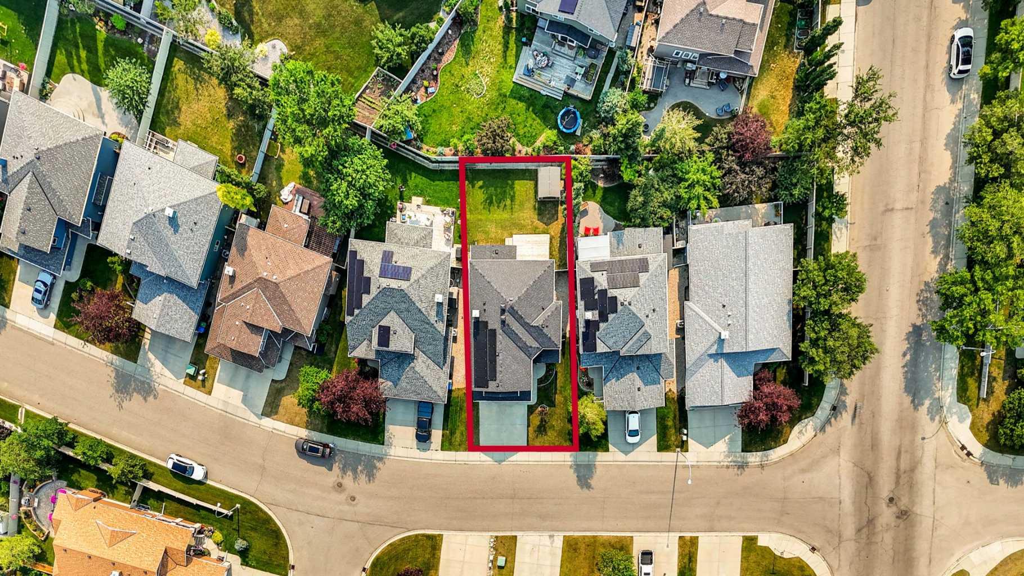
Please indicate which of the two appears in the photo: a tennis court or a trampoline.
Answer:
trampoline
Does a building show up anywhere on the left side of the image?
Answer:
Yes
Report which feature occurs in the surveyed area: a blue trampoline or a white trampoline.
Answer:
blue trampoline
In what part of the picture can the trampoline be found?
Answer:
top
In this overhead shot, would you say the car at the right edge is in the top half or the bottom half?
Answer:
top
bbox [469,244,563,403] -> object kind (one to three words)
house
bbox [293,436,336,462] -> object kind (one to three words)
car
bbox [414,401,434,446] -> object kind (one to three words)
vehicle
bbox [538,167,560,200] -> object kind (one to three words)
shed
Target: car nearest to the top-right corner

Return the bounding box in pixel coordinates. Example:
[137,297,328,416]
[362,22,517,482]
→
[949,29,974,78]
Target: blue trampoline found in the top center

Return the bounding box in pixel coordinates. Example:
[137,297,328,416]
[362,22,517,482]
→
[557,106,583,135]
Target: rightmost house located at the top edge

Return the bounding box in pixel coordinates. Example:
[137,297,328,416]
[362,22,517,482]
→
[653,0,775,78]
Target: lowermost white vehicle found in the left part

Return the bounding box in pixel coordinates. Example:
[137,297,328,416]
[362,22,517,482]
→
[164,453,207,482]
